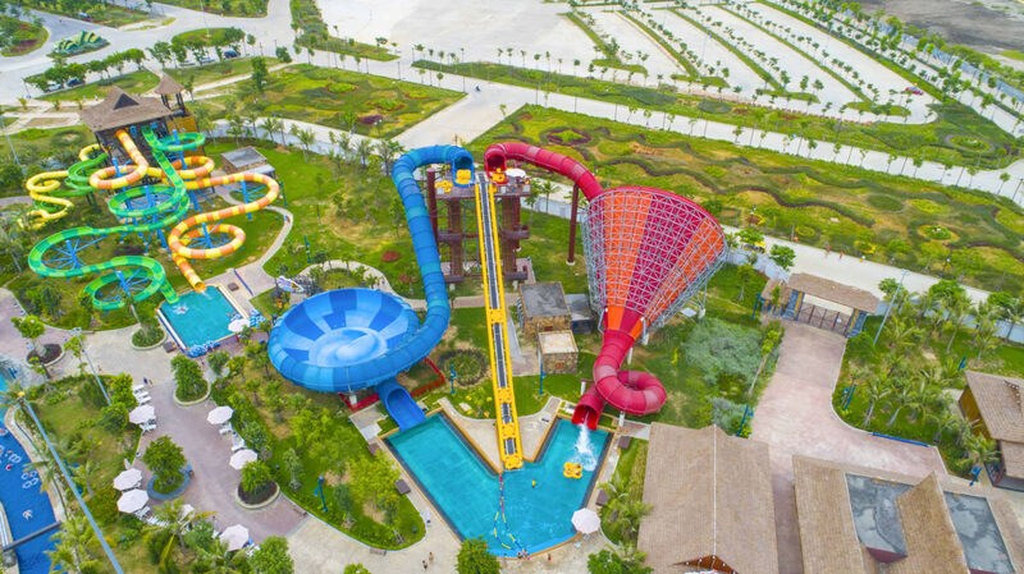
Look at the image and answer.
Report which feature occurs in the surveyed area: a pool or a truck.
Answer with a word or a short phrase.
pool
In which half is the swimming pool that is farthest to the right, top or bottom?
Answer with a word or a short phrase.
bottom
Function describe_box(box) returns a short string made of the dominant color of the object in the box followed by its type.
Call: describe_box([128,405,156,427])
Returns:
white umbrella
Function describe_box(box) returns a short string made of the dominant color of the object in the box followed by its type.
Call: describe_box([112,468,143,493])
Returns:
white umbrella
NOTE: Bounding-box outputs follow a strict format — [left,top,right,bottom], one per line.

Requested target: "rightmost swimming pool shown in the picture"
[381,408,617,562]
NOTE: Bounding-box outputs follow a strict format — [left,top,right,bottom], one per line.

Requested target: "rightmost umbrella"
[571,509,602,540]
